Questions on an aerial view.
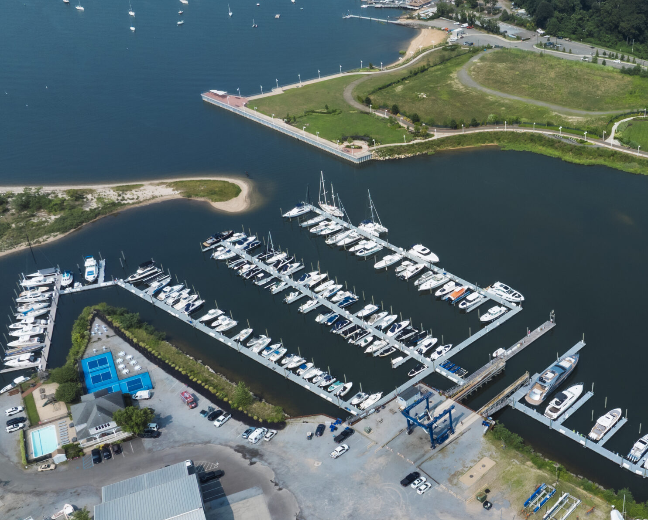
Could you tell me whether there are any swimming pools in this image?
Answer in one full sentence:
Yes, a swimming pool appears in the view.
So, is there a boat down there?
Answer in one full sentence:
Yes, a boat can be made out from above.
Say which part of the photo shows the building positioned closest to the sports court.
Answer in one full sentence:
Look in the bottom left portion of the view to spot the building positioned closest to the sports court.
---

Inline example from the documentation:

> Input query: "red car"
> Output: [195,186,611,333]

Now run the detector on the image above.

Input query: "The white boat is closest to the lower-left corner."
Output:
[1,375,32,392]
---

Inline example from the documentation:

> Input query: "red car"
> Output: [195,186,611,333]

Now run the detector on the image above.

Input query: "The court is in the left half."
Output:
[82,352,153,394]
